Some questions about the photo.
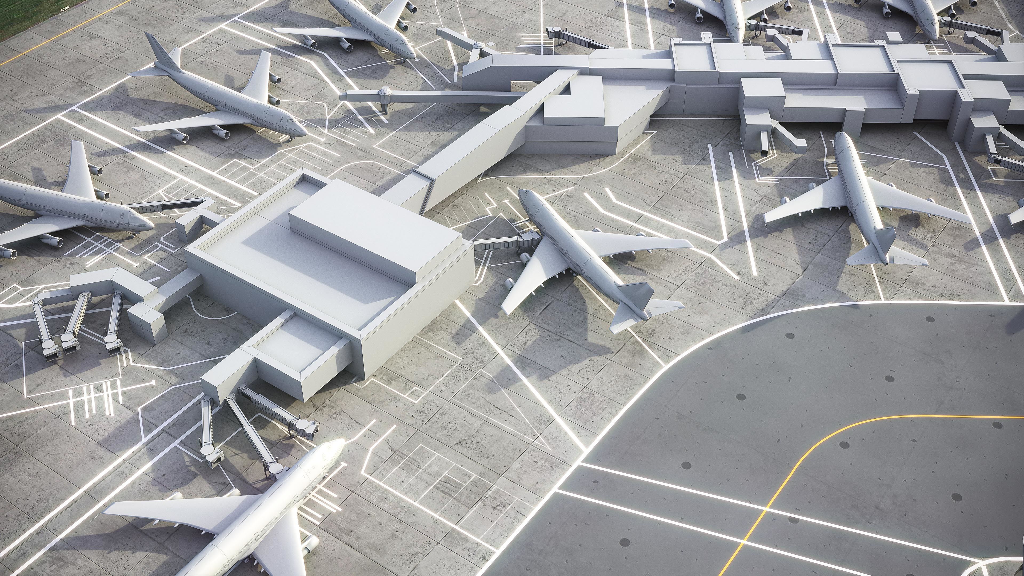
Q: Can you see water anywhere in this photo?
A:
No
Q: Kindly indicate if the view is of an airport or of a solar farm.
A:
airport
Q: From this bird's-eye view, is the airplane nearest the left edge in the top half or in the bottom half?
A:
top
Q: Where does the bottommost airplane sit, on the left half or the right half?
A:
left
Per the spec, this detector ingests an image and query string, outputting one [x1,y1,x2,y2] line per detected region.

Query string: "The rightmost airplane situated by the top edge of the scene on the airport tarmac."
[879,0,959,42]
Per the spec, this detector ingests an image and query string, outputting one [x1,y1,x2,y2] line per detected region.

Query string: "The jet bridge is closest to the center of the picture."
[469,230,543,260]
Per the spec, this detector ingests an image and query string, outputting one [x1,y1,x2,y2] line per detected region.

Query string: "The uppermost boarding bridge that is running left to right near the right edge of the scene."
[939,16,1010,42]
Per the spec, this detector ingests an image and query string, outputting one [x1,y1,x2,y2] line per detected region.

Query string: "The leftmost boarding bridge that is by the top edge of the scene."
[544,26,615,51]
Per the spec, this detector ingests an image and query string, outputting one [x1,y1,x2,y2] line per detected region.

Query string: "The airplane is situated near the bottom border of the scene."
[90,440,346,576]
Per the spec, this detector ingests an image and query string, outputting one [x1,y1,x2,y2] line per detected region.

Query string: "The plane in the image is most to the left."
[0,138,155,259]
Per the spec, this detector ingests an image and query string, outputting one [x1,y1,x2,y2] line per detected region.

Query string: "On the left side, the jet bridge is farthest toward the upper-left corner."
[106,196,213,214]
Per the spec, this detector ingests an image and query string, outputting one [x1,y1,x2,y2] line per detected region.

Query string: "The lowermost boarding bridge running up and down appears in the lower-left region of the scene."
[199,393,227,473]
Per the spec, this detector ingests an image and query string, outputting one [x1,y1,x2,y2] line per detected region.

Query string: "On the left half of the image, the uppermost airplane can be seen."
[268,0,417,61]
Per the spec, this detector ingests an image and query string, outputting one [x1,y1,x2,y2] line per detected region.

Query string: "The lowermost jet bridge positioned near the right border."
[986,152,1024,175]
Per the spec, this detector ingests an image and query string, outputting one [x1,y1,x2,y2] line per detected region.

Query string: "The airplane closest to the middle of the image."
[502,187,702,334]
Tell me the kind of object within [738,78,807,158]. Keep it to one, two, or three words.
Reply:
building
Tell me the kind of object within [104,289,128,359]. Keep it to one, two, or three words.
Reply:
jet bridge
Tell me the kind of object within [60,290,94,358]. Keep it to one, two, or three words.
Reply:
jet bridge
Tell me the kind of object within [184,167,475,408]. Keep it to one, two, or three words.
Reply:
building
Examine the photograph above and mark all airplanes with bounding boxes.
[125,32,308,142]
[764,130,977,265]
[268,0,417,61]
[0,138,155,259]
[90,440,346,576]
[668,0,792,44]
[1008,198,1024,230]
[879,0,959,42]
[502,187,702,334]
